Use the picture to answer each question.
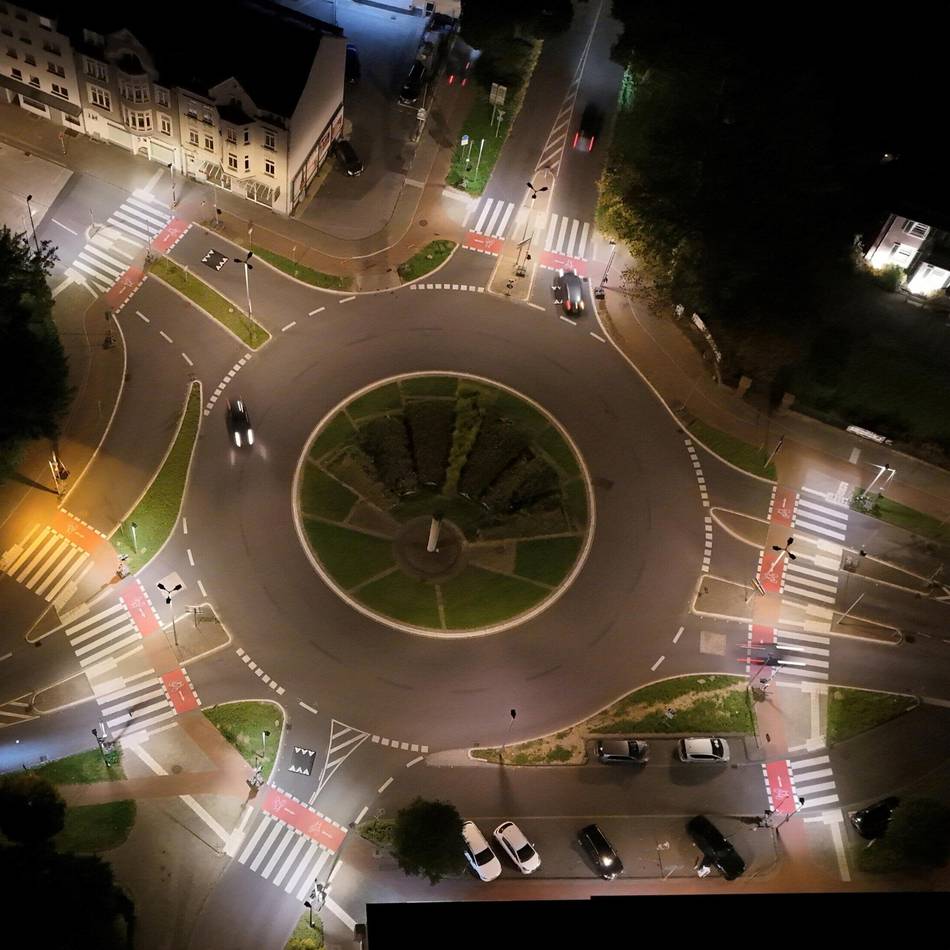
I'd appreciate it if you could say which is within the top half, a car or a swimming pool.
car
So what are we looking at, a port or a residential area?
residential area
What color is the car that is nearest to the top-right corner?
black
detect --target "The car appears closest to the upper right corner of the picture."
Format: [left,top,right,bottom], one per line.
[574,106,602,146]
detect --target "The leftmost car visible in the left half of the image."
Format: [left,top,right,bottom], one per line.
[225,395,255,446]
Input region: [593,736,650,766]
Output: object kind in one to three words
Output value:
car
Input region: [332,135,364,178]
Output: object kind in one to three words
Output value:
car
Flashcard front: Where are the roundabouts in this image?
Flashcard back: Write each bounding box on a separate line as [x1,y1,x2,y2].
[207,307,678,722]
